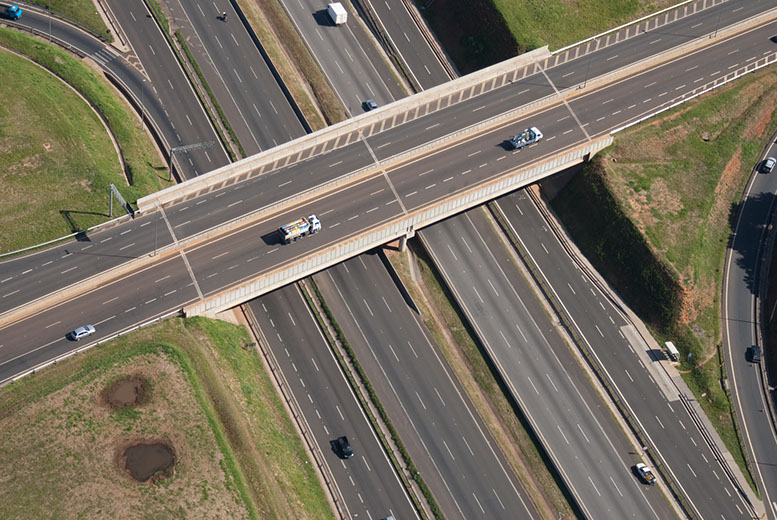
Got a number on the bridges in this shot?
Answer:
1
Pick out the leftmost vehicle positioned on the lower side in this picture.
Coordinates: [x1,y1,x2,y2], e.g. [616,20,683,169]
[68,325,95,341]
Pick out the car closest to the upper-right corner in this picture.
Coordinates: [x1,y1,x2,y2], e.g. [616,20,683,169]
[762,154,776,171]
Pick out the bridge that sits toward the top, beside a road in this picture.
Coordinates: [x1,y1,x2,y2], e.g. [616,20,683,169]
[137,43,618,327]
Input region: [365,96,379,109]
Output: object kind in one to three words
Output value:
vehicle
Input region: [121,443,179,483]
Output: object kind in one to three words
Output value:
pond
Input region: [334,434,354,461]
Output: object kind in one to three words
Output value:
vehicle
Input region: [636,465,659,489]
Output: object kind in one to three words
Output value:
truck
